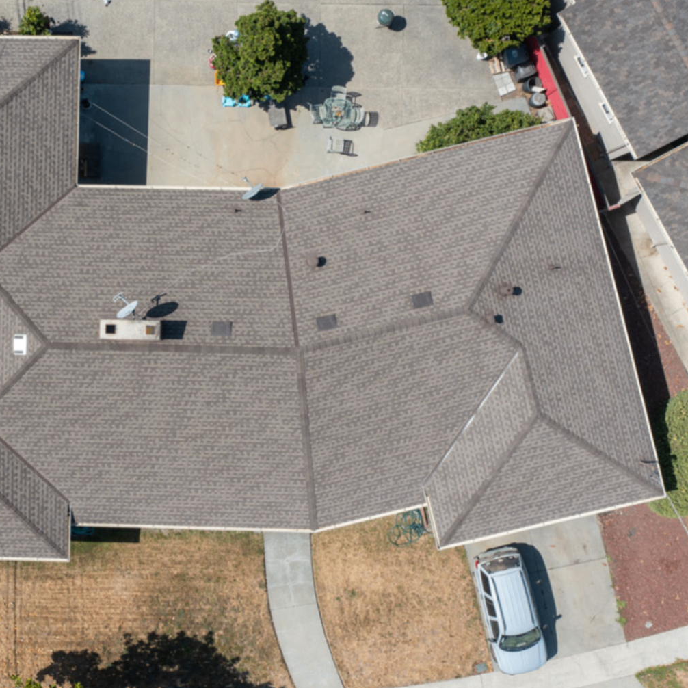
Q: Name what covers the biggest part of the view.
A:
buildings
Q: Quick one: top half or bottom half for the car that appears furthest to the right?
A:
bottom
